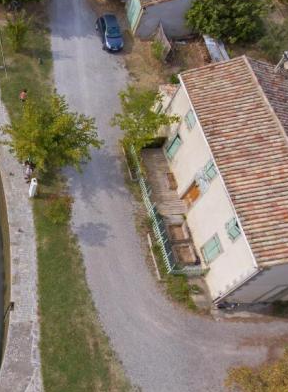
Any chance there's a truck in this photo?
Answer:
No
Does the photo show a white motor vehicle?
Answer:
No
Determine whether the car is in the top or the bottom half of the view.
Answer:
top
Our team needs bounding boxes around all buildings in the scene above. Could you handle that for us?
[120,0,213,36]
[153,55,288,302]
